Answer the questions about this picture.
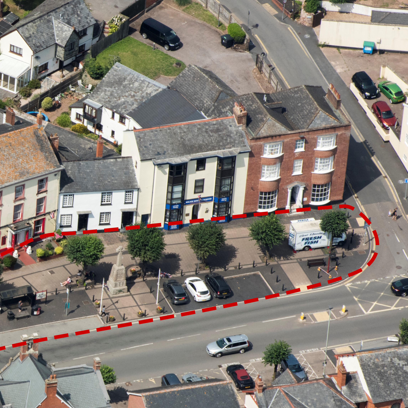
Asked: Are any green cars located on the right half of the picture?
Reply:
Yes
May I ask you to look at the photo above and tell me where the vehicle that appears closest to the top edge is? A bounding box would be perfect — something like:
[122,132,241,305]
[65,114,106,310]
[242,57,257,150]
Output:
[139,16,181,50]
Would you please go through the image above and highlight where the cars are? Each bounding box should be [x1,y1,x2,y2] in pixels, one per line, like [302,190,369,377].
[159,368,184,390]
[206,335,251,359]
[176,369,216,386]
[202,272,232,299]
[376,81,407,104]
[370,102,395,128]
[160,277,187,305]
[225,364,255,390]
[351,69,380,98]
[283,355,310,380]
[184,276,210,302]
[391,279,408,298]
